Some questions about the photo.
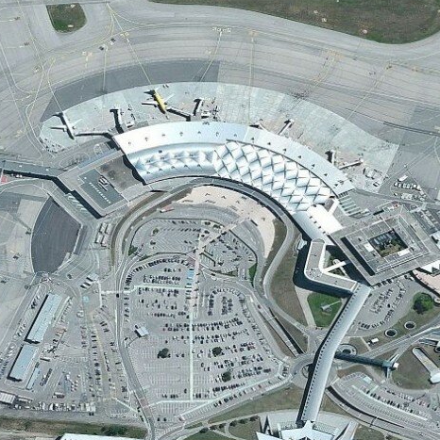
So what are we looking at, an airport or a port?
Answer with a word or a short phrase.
airport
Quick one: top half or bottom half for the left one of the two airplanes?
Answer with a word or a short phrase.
top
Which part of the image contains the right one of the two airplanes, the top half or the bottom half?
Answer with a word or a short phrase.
top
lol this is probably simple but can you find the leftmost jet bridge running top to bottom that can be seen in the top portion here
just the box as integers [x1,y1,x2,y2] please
[113,104,125,134]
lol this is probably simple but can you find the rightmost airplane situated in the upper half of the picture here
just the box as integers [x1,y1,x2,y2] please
[147,87,171,114]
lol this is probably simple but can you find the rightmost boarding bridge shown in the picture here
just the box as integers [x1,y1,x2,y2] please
[338,156,366,171]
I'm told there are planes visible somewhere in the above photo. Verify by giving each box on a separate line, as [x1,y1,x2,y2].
[52,109,78,138]
[147,87,171,114]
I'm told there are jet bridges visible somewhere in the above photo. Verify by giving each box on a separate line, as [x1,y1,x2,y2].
[277,116,296,136]
[329,147,335,165]
[166,105,193,122]
[192,96,202,121]
[254,121,268,132]
[338,156,366,171]
[75,130,116,142]
[113,104,125,134]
